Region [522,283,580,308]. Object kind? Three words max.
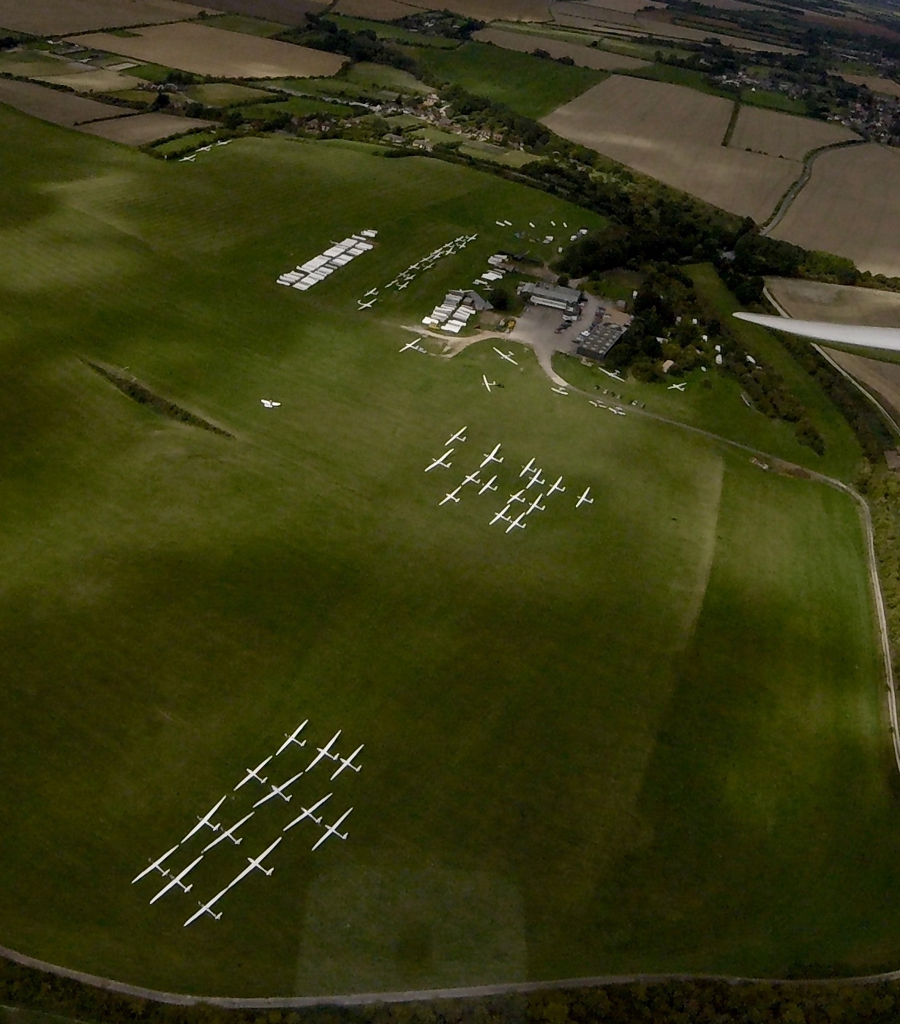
building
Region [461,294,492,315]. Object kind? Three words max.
barn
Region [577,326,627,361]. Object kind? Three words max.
hangar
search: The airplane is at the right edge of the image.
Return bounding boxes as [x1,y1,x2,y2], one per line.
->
[733,312,900,351]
